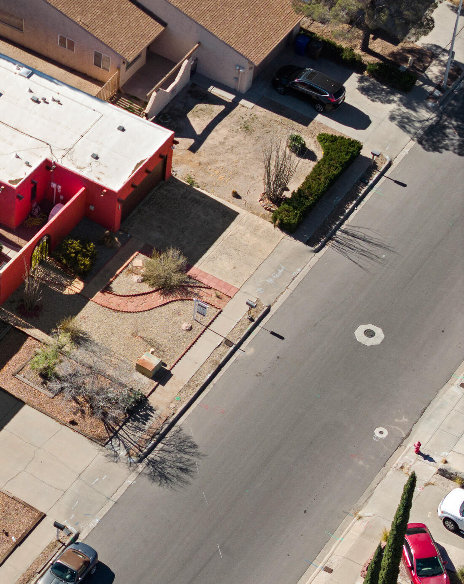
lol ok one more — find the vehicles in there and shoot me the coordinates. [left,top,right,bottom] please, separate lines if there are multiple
[438,487,464,529]
[270,64,350,112]
[37,541,99,584]
[409,521,454,584]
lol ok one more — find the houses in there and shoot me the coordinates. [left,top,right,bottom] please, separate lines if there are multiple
[0,0,303,92]
[0,53,180,234]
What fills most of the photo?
paved ground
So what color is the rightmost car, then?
white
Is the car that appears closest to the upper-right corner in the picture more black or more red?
black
